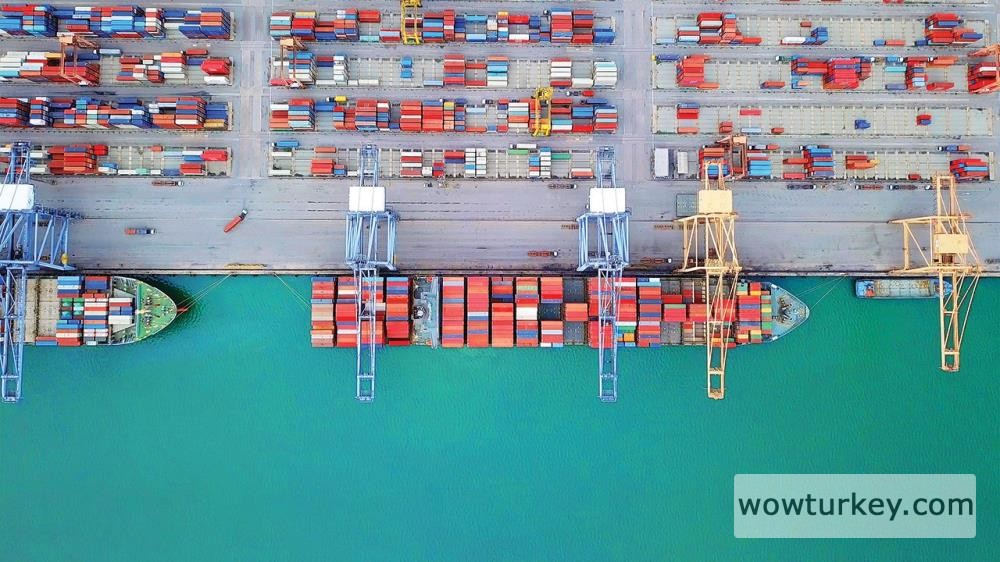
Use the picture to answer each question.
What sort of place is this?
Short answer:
port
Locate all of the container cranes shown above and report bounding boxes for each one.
[667,161,745,401]
[280,37,308,89]
[531,87,553,138]
[341,143,403,402]
[62,35,100,87]
[0,141,86,401]
[717,134,746,182]
[880,176,985,374]
[966,40,1000,93]
[570,147,636,403]
[402,0,426,45]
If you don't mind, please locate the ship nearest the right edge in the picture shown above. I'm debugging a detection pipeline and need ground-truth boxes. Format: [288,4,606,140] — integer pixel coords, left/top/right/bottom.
[855,279,953,298]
